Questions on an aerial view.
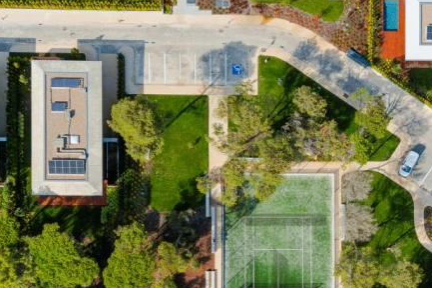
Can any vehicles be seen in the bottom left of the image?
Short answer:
No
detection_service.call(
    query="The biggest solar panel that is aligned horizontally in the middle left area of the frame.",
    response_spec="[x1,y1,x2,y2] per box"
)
[47,160,86,176]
